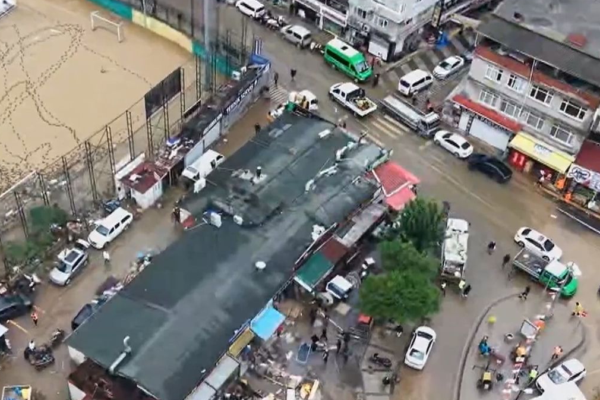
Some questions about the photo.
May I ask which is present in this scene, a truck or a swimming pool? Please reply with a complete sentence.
I can see a truck in this picture.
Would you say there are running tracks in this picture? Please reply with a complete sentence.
No, the frame has no running track in it.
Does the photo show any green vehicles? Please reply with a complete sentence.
Yes, a green vehicle can be made out from above.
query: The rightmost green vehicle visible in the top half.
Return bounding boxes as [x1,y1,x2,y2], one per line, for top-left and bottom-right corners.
[323,38,370,80]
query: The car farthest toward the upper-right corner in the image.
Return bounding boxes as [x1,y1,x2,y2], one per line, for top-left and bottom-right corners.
[433,58,466,79]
